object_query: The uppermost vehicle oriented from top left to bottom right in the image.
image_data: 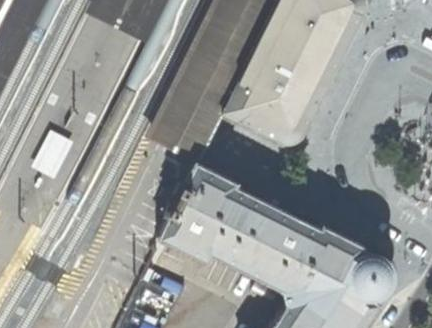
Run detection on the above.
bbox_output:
[379,222,404,242]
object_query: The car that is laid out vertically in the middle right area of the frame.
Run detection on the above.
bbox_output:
[336,163,348,186]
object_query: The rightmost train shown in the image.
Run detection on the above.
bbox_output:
[64,0,185,202]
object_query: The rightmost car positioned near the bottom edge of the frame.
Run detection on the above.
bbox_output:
[382,304,399,326]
